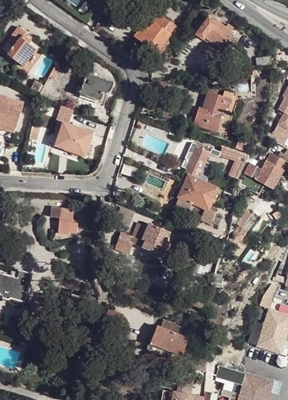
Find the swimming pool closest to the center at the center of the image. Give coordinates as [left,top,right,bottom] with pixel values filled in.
[146,175,166,190]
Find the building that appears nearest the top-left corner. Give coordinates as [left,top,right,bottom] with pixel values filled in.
[8,28,36,66]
